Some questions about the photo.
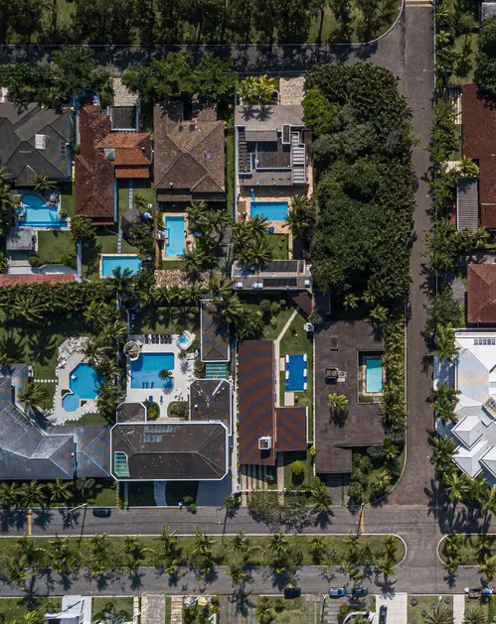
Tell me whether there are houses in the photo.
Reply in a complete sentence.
Yes, you can see a house in this photo.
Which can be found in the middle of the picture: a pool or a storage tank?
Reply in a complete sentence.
The one visible in the middle of the picture is a pool.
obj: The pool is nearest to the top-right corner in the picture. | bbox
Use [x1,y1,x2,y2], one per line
[247,199,290,223]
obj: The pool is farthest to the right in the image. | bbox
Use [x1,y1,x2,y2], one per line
[363,355,385,397]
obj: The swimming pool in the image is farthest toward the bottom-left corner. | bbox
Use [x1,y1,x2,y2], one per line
[61,394,81,413]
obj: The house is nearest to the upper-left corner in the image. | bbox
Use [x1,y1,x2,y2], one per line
[0,101,75,186]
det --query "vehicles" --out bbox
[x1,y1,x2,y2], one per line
[352,587,369,595]
[479,587,495,595]
[328,587,346,595]
[92,507,110,515]
[378,607,387,624]
[462,587,481,597]
[283,588,301,597]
